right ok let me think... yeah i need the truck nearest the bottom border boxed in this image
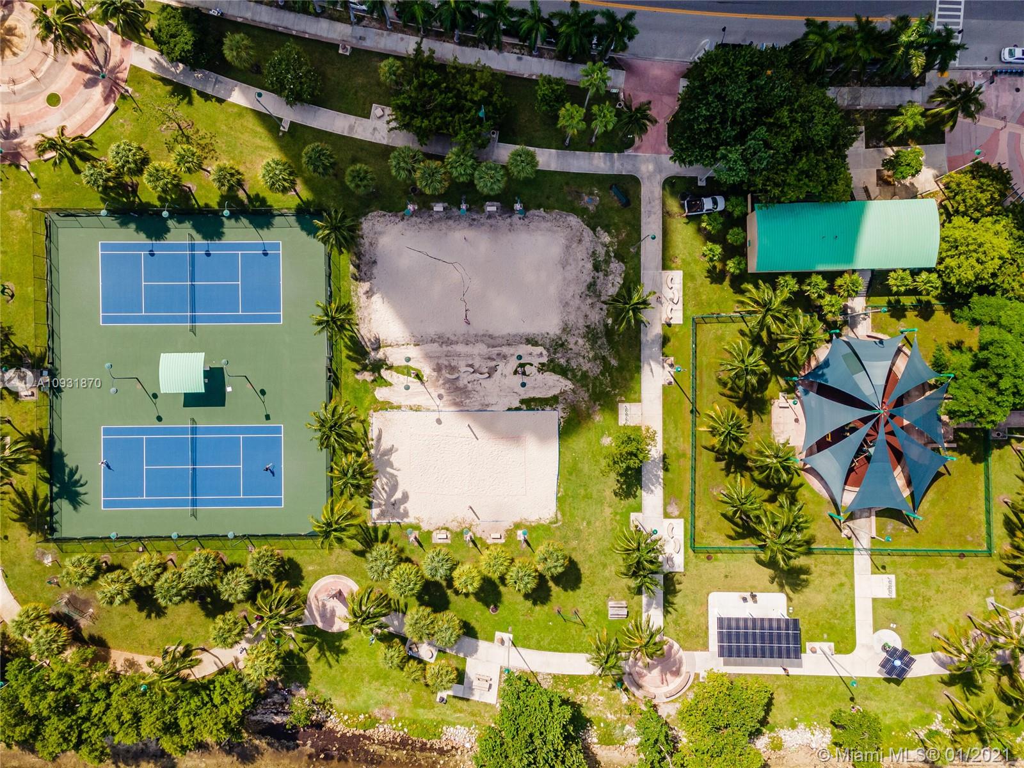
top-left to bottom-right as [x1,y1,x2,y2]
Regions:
[684,193,727,214]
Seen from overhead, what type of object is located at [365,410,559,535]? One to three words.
sports court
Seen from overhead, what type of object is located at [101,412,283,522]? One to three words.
tennis court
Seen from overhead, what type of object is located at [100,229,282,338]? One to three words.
tennis court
